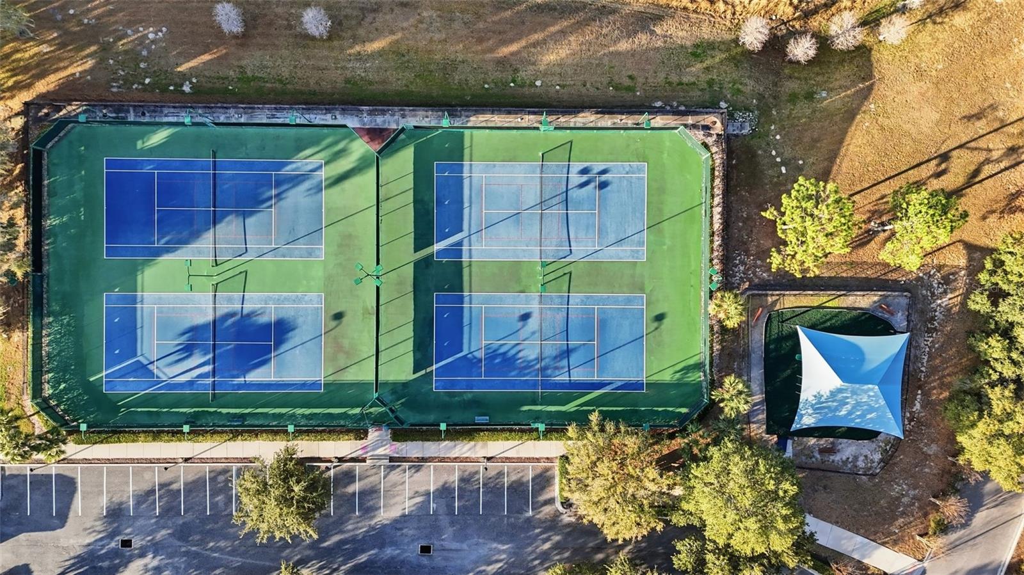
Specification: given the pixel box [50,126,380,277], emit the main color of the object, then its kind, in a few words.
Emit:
blue tennis court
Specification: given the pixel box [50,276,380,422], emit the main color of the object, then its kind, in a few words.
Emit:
blue tennis court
